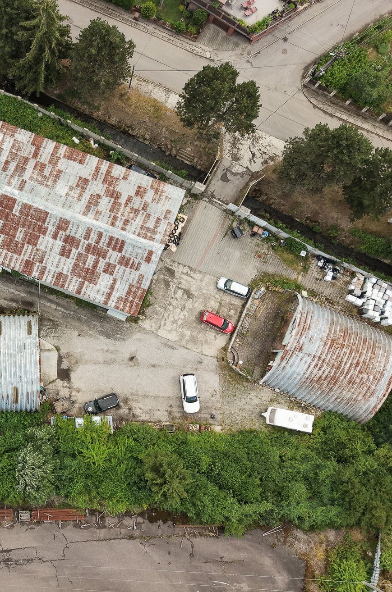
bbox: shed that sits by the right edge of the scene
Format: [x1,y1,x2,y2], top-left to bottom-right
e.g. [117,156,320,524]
[263,295,392,421]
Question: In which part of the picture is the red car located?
center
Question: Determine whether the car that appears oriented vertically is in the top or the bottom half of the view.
bottom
